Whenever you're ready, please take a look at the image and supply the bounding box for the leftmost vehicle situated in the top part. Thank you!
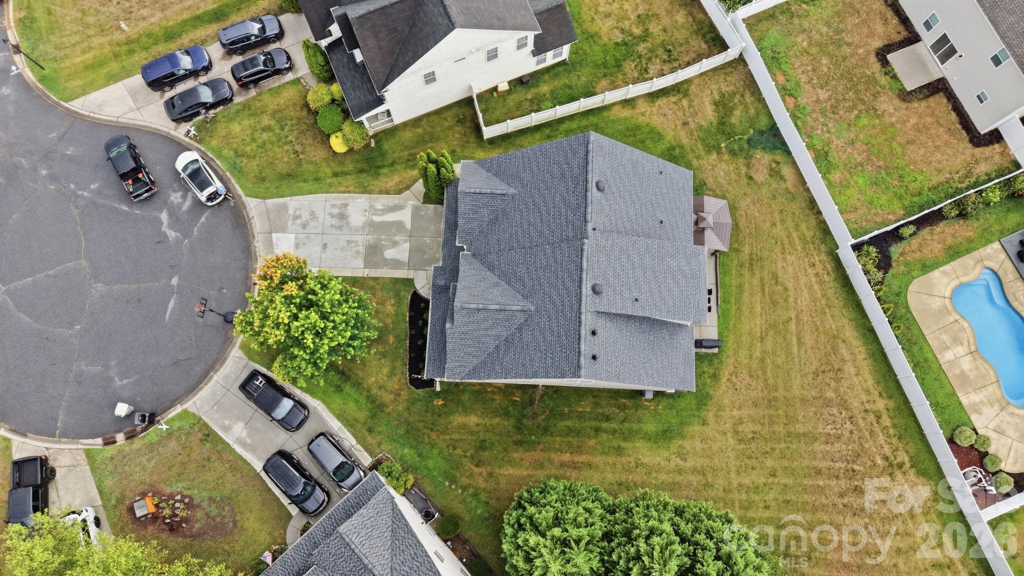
[105,132,160,205]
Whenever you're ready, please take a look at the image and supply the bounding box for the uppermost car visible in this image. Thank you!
[218,13,283,56]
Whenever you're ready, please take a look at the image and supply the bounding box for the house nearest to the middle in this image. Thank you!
[424,133,710,392]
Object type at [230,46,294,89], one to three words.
car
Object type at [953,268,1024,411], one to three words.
swimming pool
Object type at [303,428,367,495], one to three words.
car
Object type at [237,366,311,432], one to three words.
truck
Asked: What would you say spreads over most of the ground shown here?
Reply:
grass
